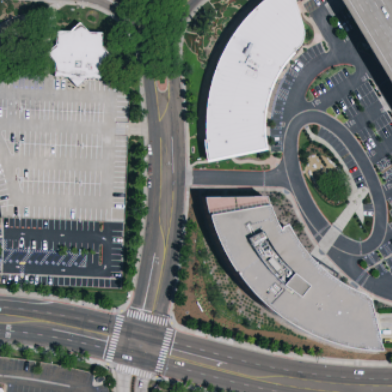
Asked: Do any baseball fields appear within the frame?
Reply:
No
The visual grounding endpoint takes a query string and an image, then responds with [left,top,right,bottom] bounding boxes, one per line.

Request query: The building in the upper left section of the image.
[51,26,108,86]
